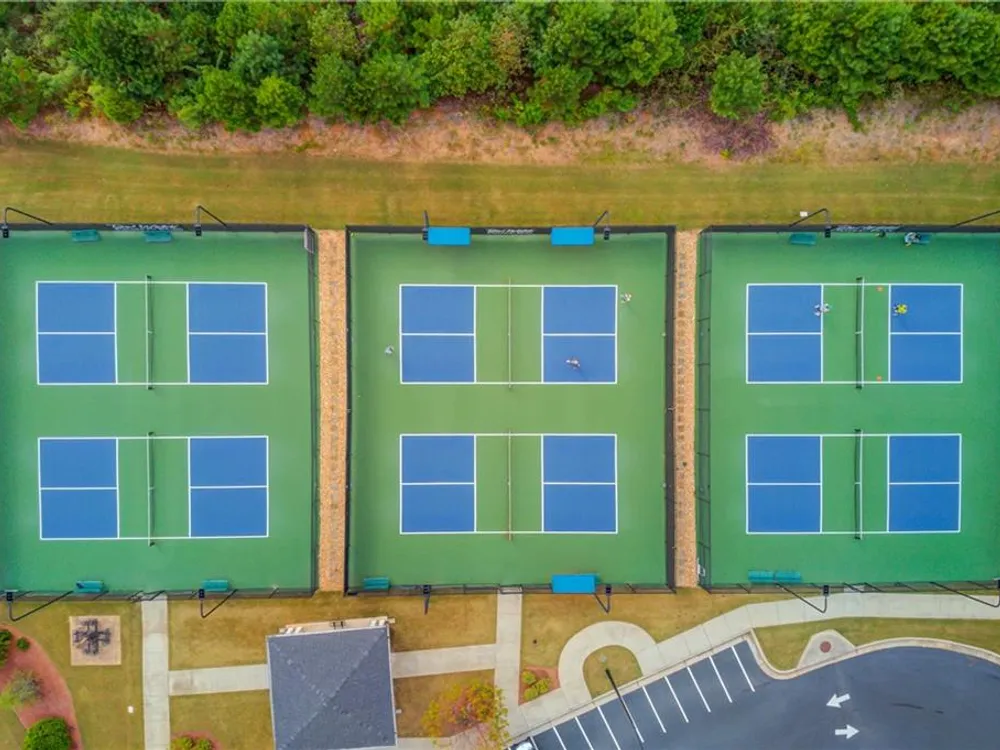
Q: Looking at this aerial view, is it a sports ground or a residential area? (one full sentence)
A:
The area seen from above is a sports ground.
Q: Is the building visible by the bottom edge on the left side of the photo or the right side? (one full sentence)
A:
The building visible by the bottom edge is on the left side of the image.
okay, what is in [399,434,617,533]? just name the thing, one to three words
sports court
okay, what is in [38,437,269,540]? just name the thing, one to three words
sports court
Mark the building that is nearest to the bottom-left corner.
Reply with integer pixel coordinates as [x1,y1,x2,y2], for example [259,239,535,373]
[267,617,399,750]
